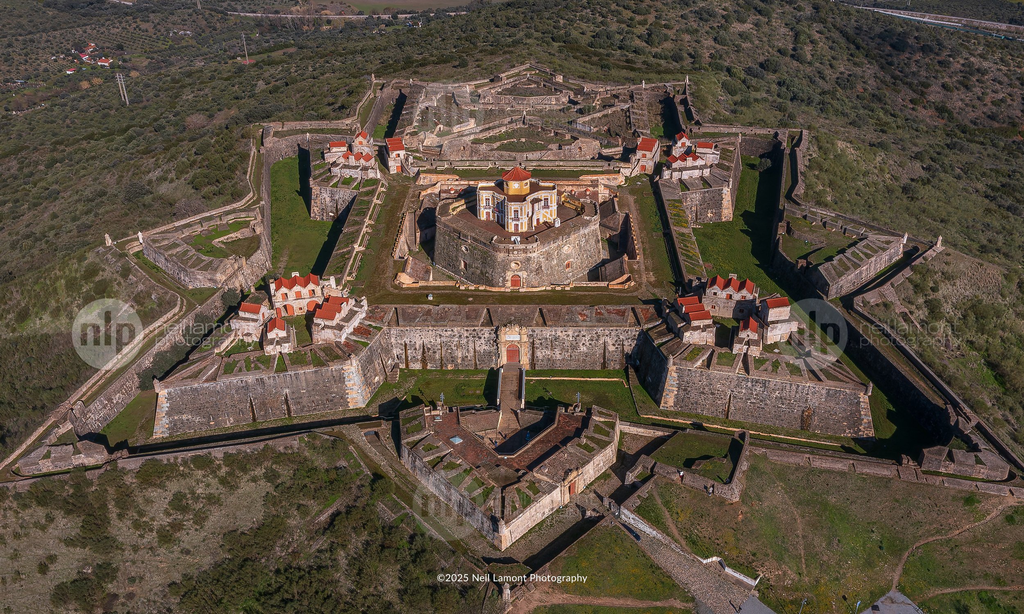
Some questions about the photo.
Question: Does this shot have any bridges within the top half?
No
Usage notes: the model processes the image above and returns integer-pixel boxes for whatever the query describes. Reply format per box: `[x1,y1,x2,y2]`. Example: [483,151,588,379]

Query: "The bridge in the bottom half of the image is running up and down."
[492,367,522,446]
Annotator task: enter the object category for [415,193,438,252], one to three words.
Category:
shed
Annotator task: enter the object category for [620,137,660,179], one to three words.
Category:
house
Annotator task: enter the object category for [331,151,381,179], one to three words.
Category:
house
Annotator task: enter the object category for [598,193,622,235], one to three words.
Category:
shed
